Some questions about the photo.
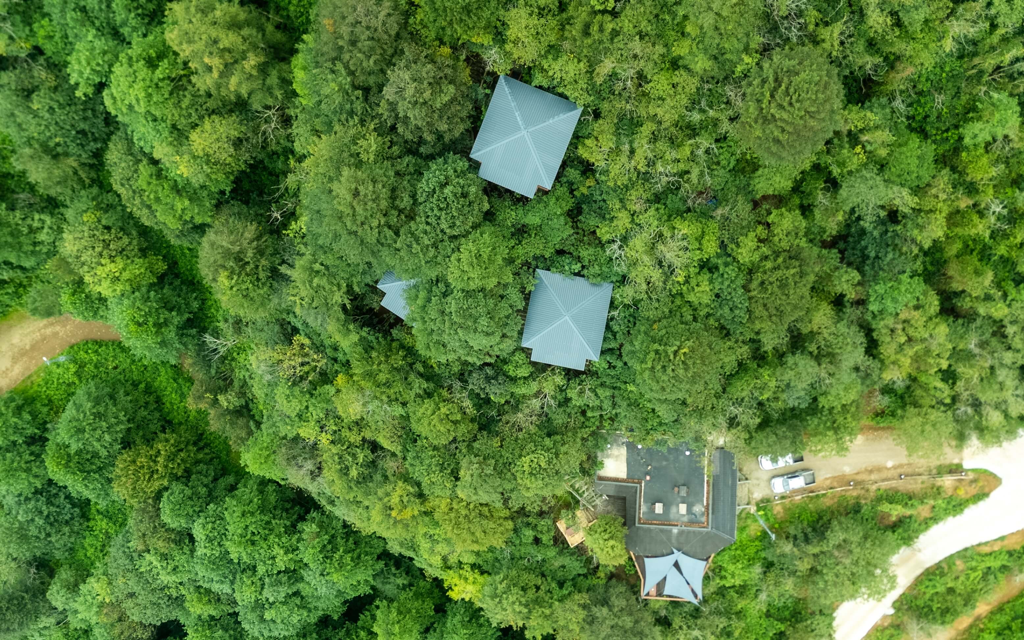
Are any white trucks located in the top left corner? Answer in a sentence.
No, no white truck is visible in the top left corner.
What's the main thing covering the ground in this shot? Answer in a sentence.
The scene is dominated by trees.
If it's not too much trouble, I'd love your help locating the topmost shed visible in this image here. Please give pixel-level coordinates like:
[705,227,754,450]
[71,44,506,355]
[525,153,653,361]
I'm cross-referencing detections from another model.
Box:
[469,76,584,205]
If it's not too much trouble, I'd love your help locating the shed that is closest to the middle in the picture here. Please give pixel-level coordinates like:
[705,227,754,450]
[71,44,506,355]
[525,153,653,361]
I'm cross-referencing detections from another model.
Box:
[521,269,614,371]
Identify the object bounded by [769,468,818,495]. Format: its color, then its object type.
white truck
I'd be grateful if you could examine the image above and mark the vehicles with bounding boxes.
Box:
[769,468,818,495]
[756,454,805,472]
